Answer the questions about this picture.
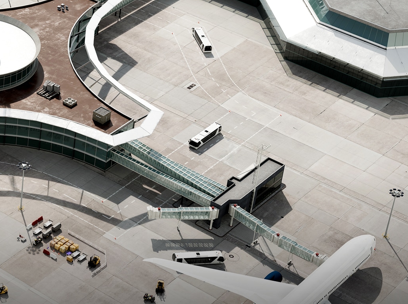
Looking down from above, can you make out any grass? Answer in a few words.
No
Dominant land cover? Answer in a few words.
paved ground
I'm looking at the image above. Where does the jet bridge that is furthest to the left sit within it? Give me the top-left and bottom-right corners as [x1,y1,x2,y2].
[139,204,218,233]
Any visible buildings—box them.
[197,161,292,242]
[0,0,166,173]
[239,0,408,98]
